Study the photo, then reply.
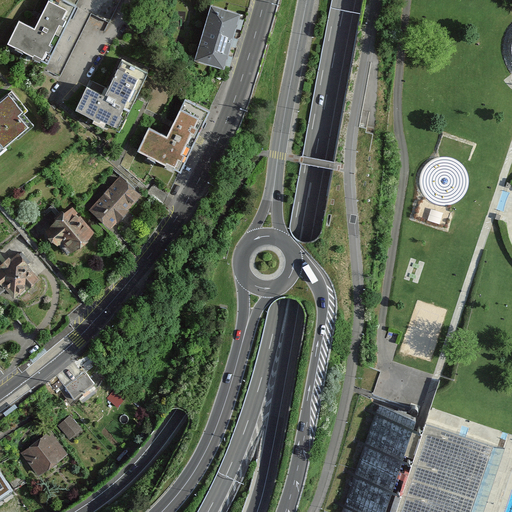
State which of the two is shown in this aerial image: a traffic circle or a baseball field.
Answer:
traffic circle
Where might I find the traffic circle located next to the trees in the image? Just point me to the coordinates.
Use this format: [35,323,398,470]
[232,227,303,298]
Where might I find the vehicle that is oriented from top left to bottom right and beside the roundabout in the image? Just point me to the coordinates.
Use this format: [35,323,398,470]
[303,263,318,284]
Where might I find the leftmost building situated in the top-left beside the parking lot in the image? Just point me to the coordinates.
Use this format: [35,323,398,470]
[0,91,36,154]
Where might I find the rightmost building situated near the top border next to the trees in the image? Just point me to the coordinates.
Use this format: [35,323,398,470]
[196,6,244,69]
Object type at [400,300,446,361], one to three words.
sports court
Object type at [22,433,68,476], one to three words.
house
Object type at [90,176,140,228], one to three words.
house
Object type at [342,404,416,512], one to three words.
building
